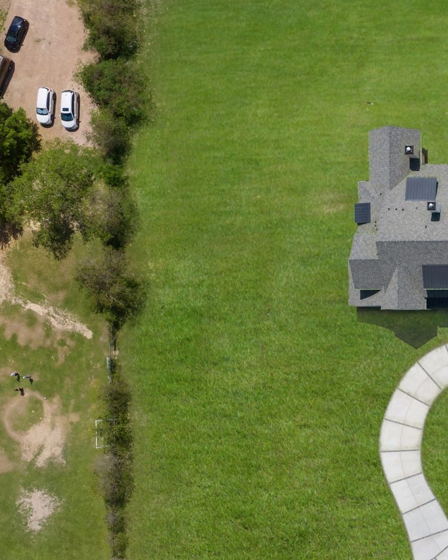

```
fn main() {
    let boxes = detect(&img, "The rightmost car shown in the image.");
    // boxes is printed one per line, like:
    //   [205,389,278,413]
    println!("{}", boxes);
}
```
[62,92,81,130]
